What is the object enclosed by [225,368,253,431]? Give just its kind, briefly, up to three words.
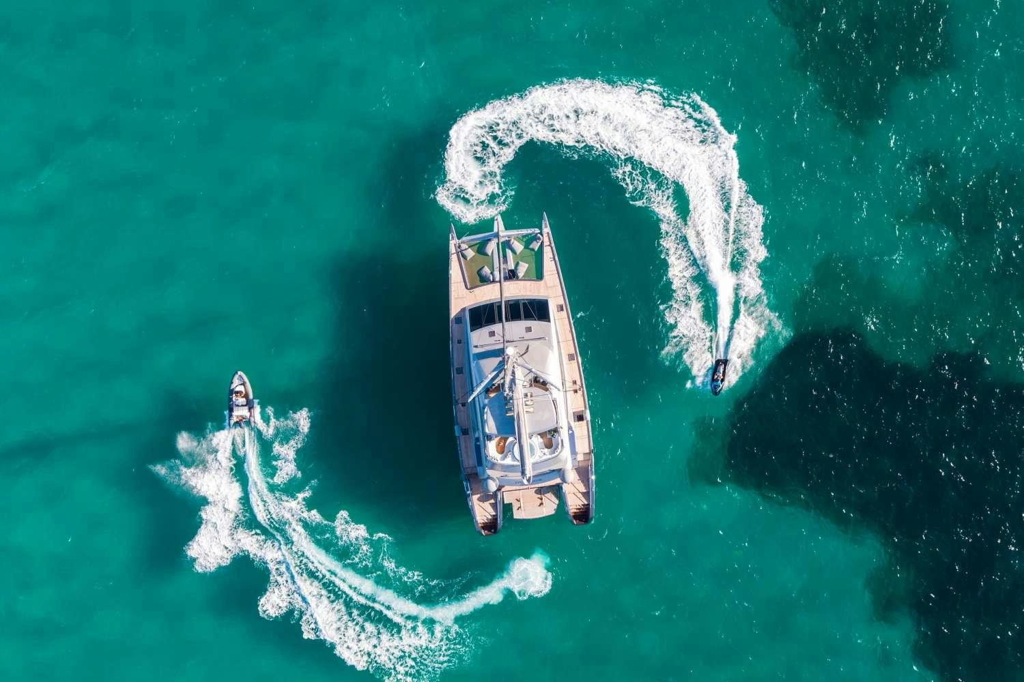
boat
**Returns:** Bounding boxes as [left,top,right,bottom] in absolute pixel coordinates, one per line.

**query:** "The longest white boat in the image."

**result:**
[451,212,593,534]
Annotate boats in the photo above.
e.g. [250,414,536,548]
[712,356,731,396]
[225,368,253,431]
[451,212,593,534]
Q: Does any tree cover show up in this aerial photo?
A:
No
